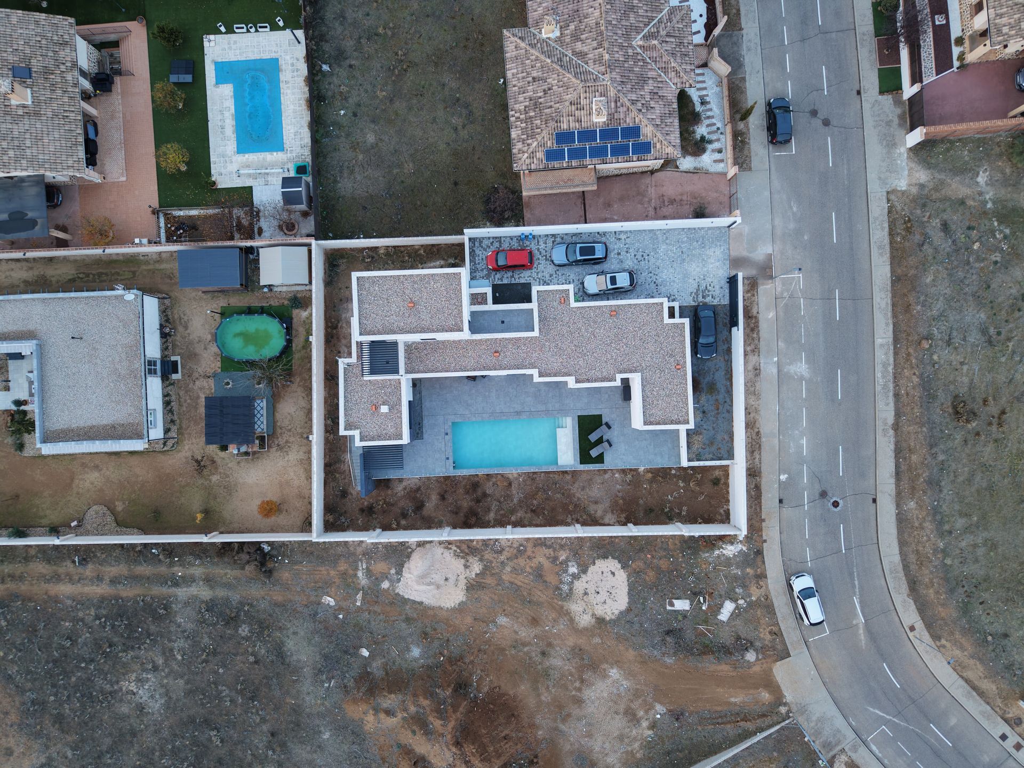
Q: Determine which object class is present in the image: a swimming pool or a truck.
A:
swimming pool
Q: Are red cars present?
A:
Yes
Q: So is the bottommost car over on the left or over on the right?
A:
right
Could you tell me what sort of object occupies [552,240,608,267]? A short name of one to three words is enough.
car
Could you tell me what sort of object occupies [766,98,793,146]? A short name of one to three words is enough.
car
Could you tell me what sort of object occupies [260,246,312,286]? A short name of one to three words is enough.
shed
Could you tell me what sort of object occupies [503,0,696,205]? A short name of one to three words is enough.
house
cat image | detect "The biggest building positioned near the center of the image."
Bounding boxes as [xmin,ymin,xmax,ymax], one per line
[339,268,694,446]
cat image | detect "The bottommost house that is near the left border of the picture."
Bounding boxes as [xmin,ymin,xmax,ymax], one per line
[0,282,176,454]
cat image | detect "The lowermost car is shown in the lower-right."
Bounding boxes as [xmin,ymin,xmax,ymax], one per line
[788,572,826,628]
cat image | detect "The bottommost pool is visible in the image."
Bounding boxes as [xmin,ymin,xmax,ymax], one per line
[445,417,574,470]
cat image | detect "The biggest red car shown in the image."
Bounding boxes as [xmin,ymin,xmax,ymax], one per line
[487,247,533,272]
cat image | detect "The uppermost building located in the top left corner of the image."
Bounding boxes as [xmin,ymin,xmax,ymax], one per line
[0,14,108,186]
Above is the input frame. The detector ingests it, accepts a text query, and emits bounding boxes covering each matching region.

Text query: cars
[46,185,63,209]
[788,572,826,628]
[766,98,793,146]
[582,270,637,296]
[552,240,608,267]
[487,247,533,272]
[693,305,720,359]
